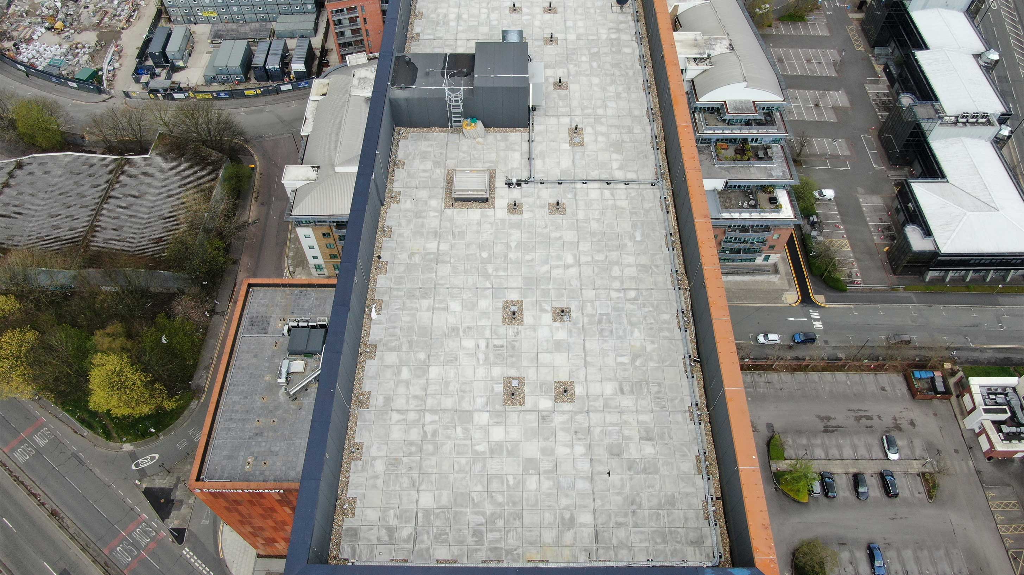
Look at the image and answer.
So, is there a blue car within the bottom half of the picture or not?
Yes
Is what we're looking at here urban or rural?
urban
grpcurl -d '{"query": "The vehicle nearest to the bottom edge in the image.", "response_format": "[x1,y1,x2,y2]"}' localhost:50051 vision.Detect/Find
[866,543,886,575]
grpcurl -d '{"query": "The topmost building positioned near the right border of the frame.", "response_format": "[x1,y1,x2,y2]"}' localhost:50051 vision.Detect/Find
[862,0,1024,290]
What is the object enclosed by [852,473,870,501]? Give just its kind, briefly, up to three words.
car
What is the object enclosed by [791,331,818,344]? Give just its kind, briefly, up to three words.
vehicle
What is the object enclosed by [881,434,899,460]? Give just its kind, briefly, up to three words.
car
